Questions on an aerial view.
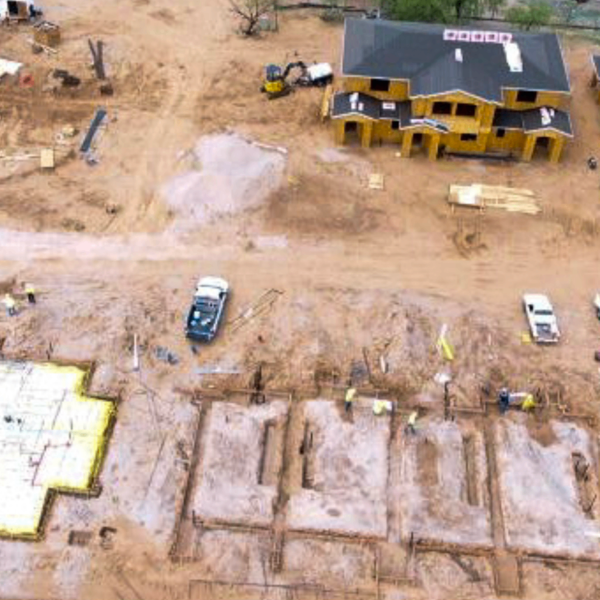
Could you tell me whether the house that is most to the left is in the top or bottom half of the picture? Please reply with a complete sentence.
Seen from above, the house that is most to the left lies in the top half of the view.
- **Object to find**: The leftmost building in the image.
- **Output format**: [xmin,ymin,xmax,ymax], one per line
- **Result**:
[330,18,574,163]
